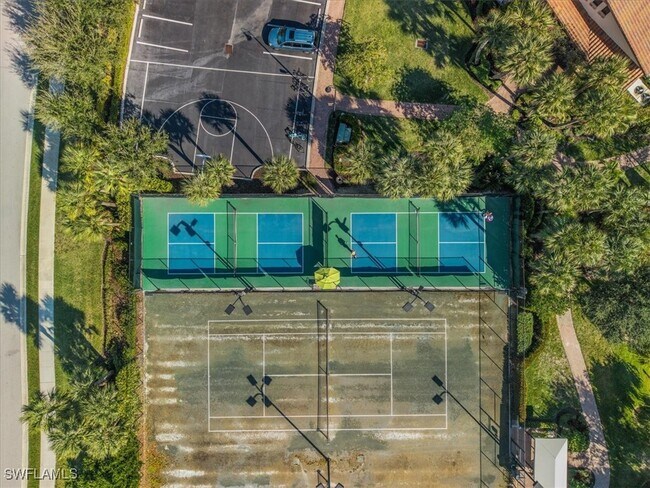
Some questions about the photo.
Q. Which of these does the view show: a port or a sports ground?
sports ground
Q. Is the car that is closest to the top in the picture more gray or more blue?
blue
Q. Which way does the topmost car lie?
from left to right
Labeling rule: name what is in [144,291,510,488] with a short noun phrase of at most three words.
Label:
tennis court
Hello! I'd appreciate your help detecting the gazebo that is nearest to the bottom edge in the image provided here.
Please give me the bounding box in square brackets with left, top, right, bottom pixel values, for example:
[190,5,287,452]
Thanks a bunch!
[533,437,567,488]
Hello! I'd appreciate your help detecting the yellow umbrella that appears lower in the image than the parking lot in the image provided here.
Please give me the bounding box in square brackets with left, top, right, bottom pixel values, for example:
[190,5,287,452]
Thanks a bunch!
[314,268,338,292]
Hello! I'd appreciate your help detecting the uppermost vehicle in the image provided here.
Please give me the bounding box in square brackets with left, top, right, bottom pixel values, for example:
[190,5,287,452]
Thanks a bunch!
[267,26,317,53]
